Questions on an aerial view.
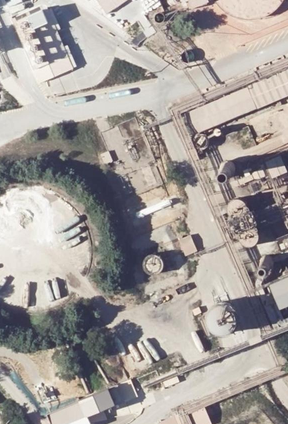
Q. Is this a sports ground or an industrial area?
industrial area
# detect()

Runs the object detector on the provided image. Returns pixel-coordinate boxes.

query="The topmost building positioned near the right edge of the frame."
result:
[189,70,288,132]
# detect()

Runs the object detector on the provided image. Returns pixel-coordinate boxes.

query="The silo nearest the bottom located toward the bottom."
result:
[205,297,238,336]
